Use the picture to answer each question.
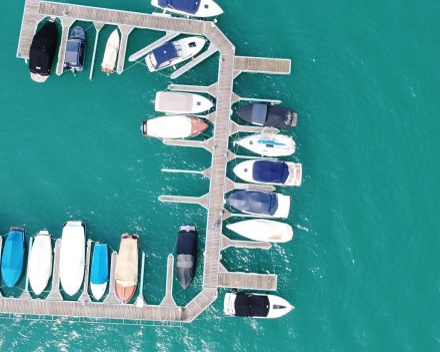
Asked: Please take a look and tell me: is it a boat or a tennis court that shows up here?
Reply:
boat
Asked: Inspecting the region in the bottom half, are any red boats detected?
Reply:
No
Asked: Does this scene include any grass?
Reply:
No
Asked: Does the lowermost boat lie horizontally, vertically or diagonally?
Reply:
horizontally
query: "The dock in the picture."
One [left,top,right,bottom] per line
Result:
[0,0,291,326]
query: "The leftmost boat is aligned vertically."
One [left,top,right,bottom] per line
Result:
[1,225,26,287]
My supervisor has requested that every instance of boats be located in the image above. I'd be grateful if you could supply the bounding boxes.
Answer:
[233,134,296,156]
[150,92,214,114]
[30,17,59,85]
[65,26,85,74]
[91,242,110,301]
[1,225,26,287]
[226,190,291,219]
[235,104,296,129]
[145,38,208,74]
[225,217,293,241]
[232,159,302,186]
[102,30,120,75]
[150,0,223,18]
[60,221,86,296]
[141,115,208,139]
[28,230,53,296]
[175,223,196,290]
[114,233,139,304]
[223,292,295,319]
